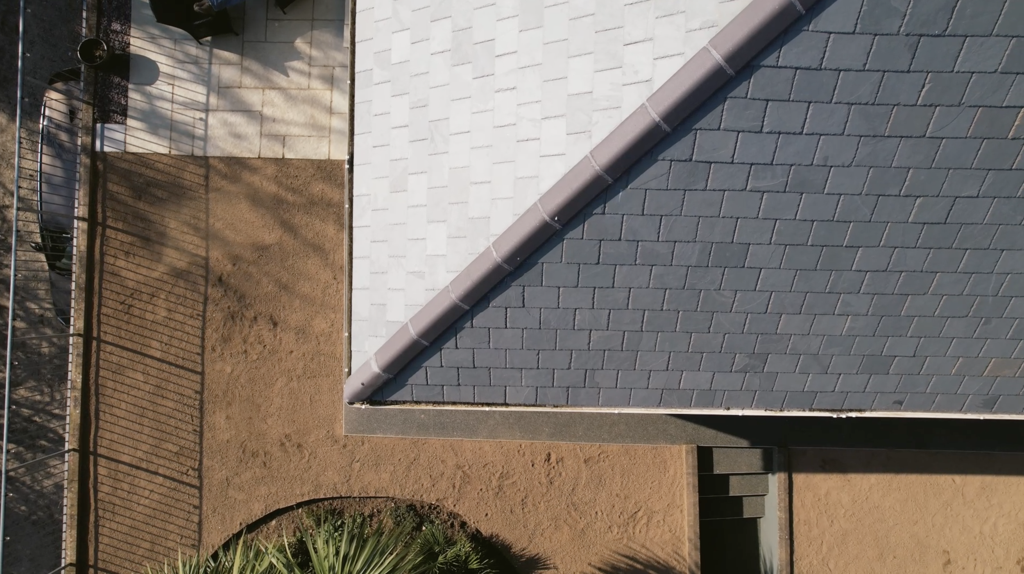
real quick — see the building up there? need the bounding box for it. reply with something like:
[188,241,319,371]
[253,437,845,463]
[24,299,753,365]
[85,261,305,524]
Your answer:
[338,0,1024,421]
